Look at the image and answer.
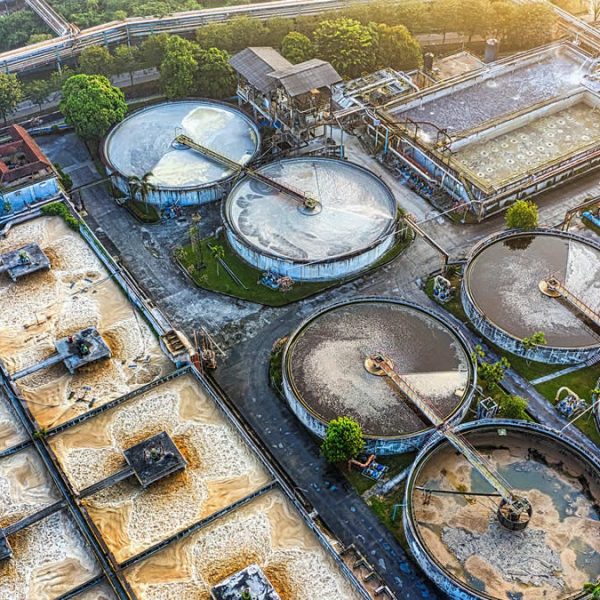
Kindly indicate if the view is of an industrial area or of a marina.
industrial area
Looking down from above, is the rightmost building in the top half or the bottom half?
top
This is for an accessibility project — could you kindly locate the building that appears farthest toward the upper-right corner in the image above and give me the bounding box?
[432,47,488,81]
